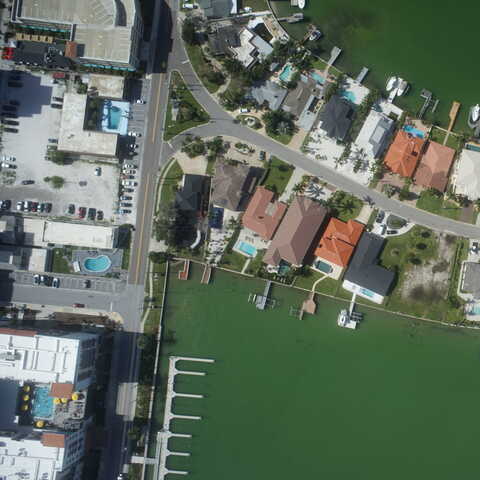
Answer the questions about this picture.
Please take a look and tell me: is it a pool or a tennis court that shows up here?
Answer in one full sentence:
There is a pool in the scene.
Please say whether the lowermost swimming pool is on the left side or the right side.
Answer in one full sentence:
The lowermost swimming pool appears in the left half of the scene.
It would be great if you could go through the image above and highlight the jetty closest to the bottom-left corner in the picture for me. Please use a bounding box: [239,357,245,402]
[130,352,216,480]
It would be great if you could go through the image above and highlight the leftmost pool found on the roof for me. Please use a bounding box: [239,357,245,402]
[31,384,54,424]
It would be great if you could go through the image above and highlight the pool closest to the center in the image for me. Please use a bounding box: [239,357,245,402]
[239,239,258,256]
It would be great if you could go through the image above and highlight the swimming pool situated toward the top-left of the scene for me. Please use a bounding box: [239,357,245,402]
[107,106,125,129]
